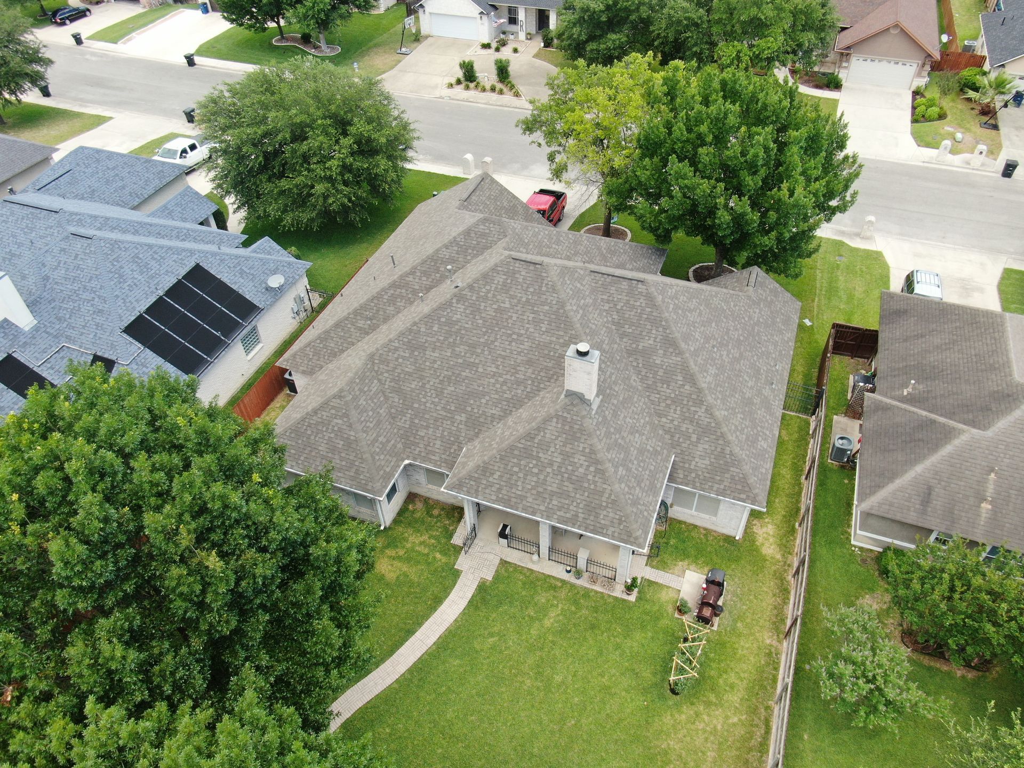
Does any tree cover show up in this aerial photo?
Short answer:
Yes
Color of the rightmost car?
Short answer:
white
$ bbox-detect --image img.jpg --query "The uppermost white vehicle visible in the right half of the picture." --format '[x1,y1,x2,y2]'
[897,266,944,302]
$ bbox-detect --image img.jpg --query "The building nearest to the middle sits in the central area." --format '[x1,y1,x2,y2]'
[244,168,801,594]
